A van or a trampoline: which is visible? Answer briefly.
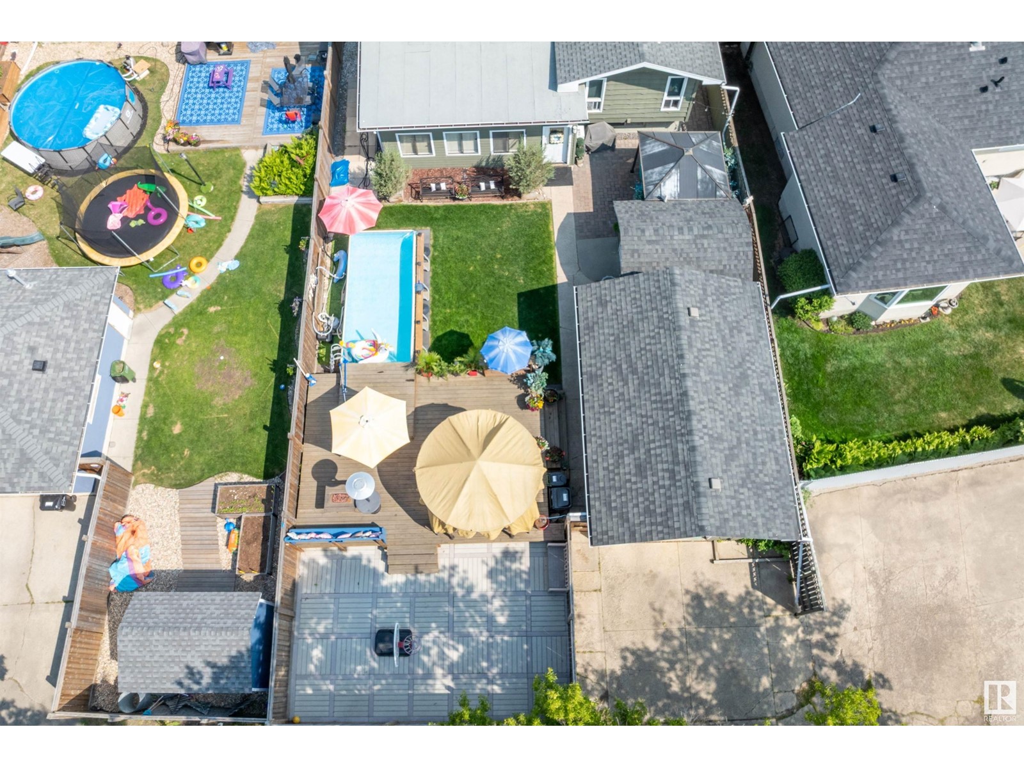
trampoline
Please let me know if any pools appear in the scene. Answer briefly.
Yes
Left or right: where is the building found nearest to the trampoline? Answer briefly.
left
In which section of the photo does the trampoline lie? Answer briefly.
top left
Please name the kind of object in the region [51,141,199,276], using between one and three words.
trampoline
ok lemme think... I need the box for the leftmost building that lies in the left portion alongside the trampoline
[0,264,143,498]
